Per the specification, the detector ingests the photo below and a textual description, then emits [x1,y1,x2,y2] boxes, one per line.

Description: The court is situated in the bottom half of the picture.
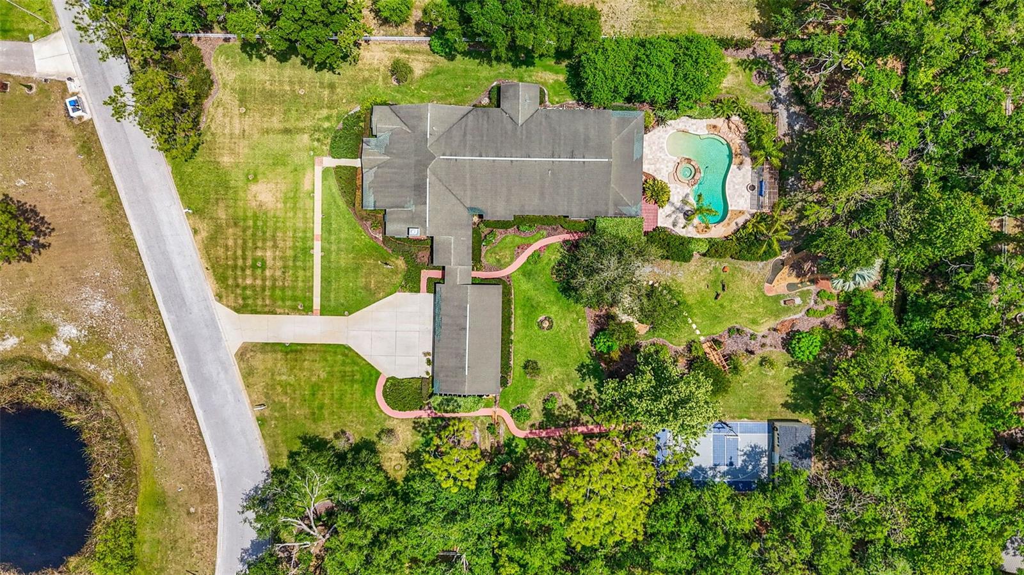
[657,421,773,491]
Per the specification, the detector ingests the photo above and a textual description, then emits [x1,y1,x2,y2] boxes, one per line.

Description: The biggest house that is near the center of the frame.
[359,80,644,397]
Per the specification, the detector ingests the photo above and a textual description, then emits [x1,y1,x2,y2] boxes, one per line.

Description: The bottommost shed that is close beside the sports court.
[773,421,814,476]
